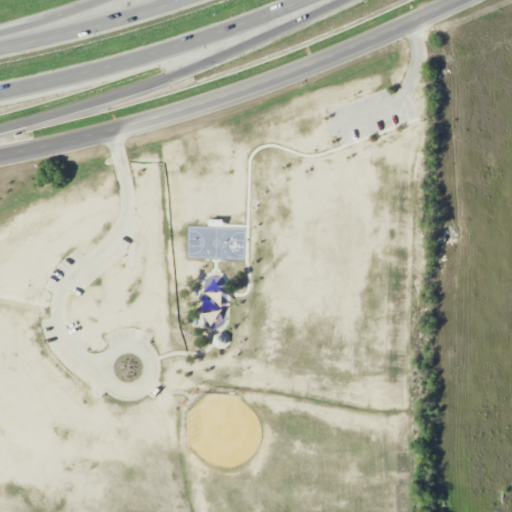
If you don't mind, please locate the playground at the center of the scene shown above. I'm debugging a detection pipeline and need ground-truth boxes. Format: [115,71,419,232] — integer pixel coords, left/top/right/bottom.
[198,270,230,335]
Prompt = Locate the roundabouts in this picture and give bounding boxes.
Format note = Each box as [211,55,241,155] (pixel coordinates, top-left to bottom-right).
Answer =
[96,328,160,400]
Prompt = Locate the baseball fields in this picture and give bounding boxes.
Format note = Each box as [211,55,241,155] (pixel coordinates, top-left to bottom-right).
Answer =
[183,390,262,468]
